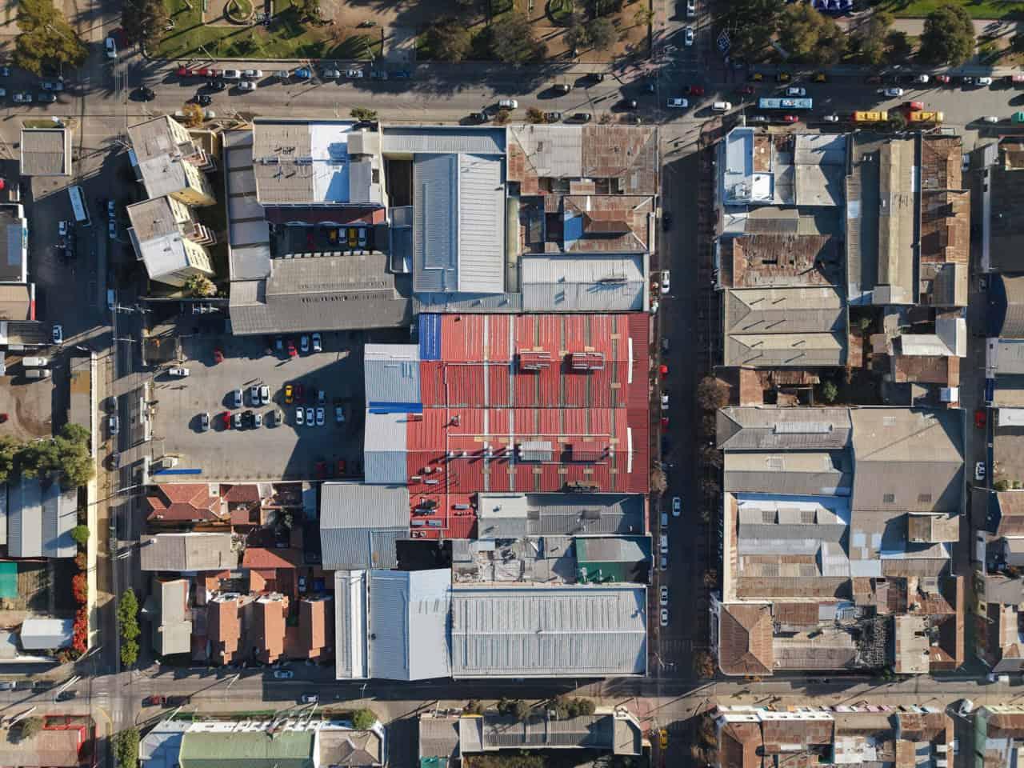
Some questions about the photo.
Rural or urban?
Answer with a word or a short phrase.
urban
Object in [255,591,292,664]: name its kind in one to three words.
house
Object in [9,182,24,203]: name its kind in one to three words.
vehicle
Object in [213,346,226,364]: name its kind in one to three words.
vehicle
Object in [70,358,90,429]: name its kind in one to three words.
shed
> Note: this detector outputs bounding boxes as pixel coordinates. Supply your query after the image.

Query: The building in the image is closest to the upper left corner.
[20,128,78,181]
